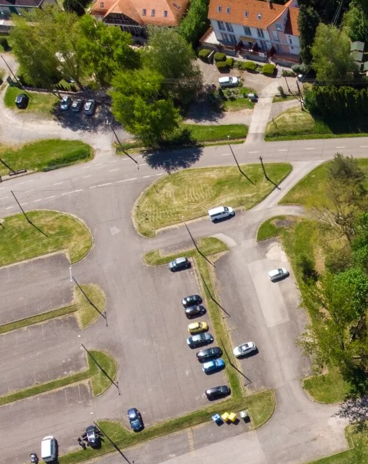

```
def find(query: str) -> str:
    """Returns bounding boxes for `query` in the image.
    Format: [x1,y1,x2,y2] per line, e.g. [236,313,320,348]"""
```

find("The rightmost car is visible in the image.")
[264,265,293,282]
